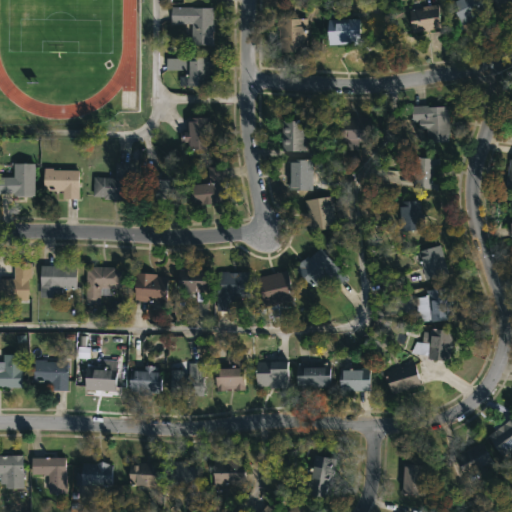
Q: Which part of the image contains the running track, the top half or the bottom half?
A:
top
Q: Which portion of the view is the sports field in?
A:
top left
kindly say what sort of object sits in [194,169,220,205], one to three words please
house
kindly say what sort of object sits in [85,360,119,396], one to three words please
house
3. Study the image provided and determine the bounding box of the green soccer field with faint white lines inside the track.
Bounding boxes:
[0,0,122,105]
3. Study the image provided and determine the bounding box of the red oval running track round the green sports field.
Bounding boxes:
[0,0,137,120]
